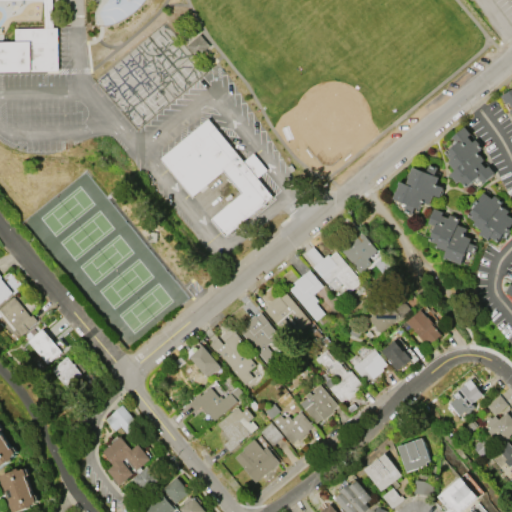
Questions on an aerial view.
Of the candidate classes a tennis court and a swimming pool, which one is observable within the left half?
tennis court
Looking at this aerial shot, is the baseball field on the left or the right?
right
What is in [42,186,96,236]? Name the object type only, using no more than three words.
tennis court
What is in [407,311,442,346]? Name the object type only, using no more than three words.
house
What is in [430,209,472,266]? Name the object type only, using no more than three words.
building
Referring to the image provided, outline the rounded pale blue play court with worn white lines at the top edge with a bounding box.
[95,0,148,27]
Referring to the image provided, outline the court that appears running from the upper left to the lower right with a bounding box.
[26,172,190,350]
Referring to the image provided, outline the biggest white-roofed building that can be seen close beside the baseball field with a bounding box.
[162,118,276,236]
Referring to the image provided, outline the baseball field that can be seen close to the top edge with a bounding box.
[184,0,486,174]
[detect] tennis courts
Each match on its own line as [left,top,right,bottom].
[82,235,134,284]
[101,260,154,308]
[26,172,190,350]
[42,186,96,236]
[62,211,115,260]
[120,284,174,333]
